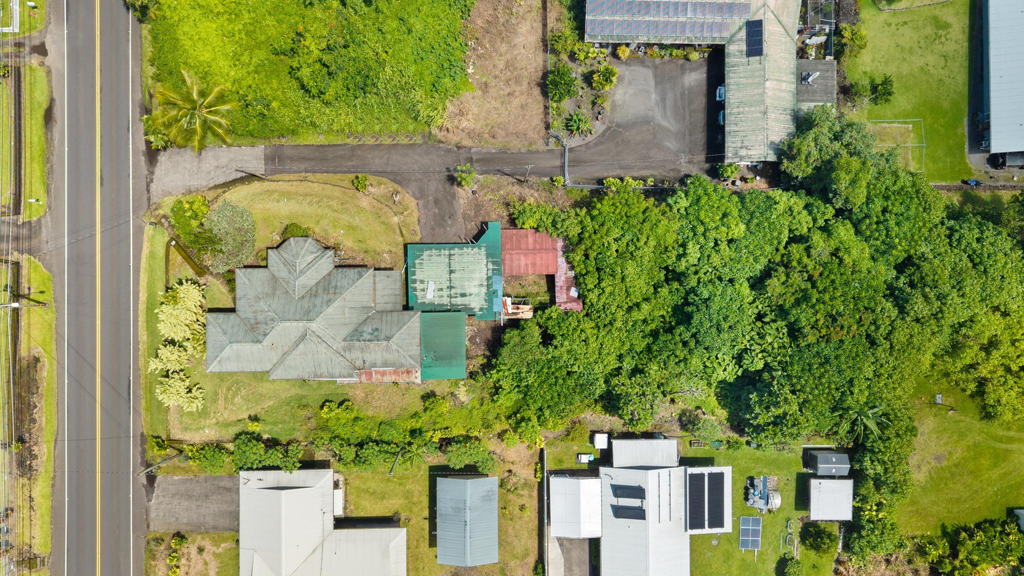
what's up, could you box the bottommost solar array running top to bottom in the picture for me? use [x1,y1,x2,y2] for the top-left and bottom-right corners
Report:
[740,516,762,561]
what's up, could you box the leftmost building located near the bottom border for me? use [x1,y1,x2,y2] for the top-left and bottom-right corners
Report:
[239,468,407,576]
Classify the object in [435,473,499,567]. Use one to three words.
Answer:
barn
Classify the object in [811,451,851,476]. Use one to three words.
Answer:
shed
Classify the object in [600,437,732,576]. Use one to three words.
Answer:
house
